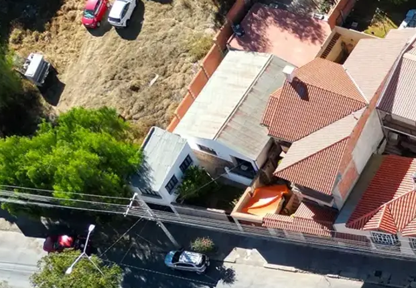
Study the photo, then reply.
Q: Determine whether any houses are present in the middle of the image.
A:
Yes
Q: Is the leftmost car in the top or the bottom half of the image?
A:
top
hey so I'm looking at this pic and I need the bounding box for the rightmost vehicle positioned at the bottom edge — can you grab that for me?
[164,250,211,275]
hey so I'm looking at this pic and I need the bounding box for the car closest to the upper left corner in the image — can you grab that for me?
[17,50,51,87]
